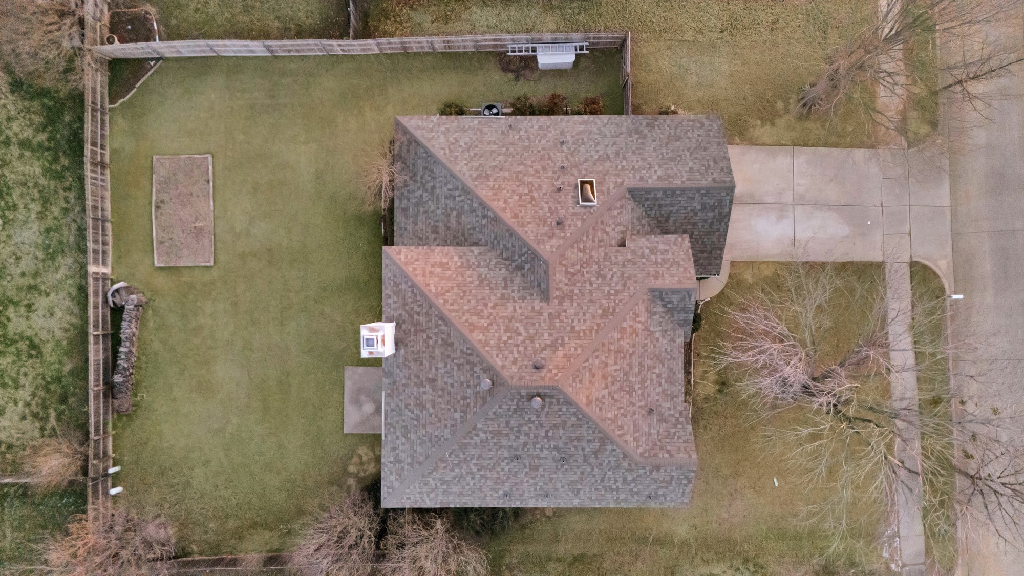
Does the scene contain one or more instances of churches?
No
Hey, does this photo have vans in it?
No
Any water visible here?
No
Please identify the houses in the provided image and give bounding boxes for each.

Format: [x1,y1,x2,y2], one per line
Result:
[360,113,735,510]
